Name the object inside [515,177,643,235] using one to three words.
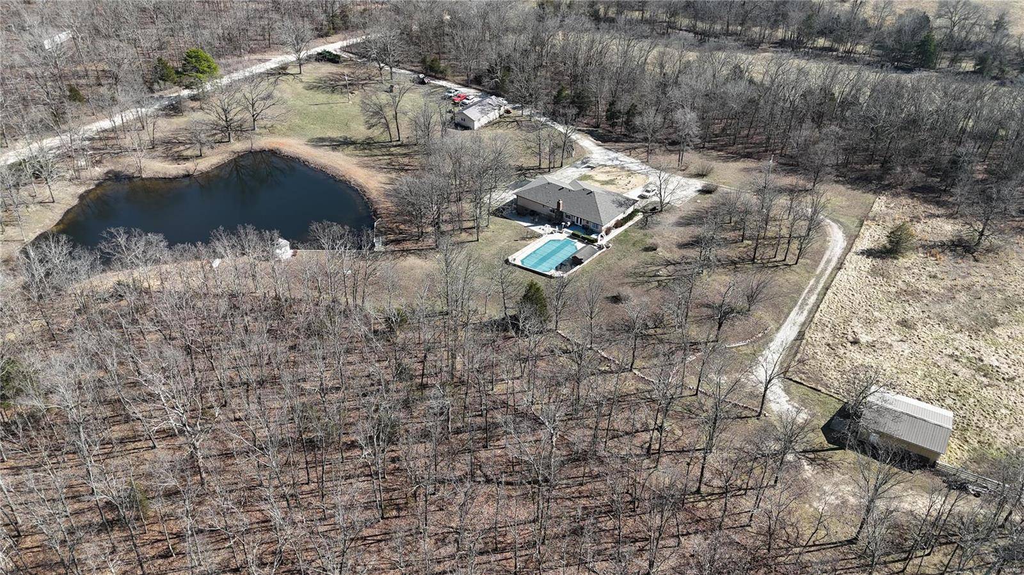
house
